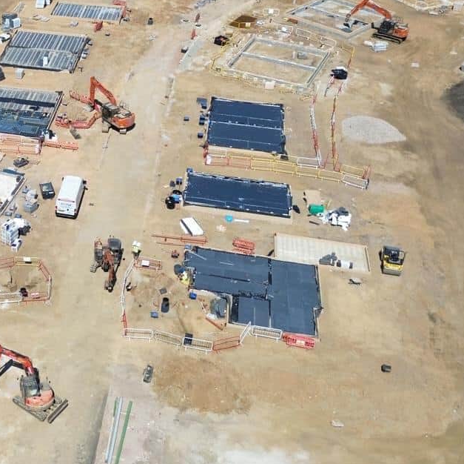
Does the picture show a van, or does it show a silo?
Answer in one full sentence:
I can see a van in this picture.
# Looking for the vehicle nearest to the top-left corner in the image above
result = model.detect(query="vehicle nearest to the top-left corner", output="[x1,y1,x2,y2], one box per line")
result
[87,69,135,132]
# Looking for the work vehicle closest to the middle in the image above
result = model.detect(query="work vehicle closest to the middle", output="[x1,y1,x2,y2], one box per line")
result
[93,243,125,292]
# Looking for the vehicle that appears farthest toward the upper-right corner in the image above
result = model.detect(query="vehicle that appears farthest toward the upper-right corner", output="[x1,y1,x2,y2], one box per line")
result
[339,0,411,46]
